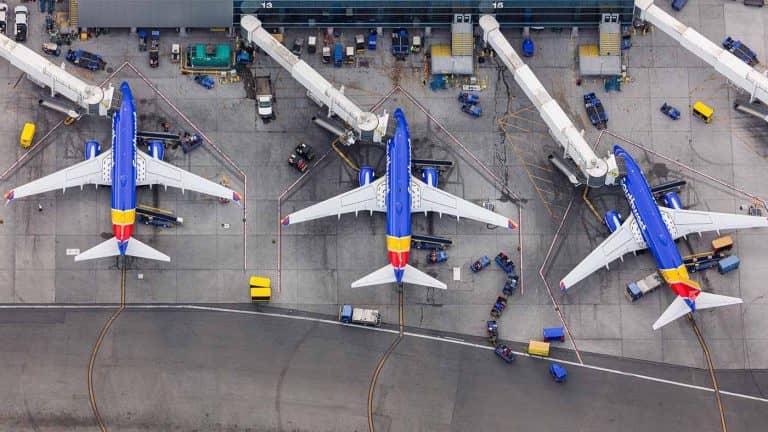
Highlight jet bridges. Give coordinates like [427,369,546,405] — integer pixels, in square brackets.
[479,13,627,188]
[239,13,394,144]
[635,0,768,113]
[0,27,122,118]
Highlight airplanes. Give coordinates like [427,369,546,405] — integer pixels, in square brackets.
[559,146,768,332]
[279,108,519,289]
[4,82,242,262]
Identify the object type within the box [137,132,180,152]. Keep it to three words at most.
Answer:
work vehicle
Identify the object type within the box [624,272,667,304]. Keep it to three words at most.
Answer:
truck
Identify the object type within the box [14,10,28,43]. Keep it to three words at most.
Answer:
vehicle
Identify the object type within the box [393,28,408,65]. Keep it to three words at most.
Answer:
work vehicle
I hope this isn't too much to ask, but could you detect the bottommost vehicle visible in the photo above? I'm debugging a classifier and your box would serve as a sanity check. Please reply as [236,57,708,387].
[547,359,568,383]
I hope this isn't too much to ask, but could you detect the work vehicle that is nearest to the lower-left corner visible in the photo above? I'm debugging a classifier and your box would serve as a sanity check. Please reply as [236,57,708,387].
[136,204,185,231]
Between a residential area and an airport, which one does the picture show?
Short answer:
airport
